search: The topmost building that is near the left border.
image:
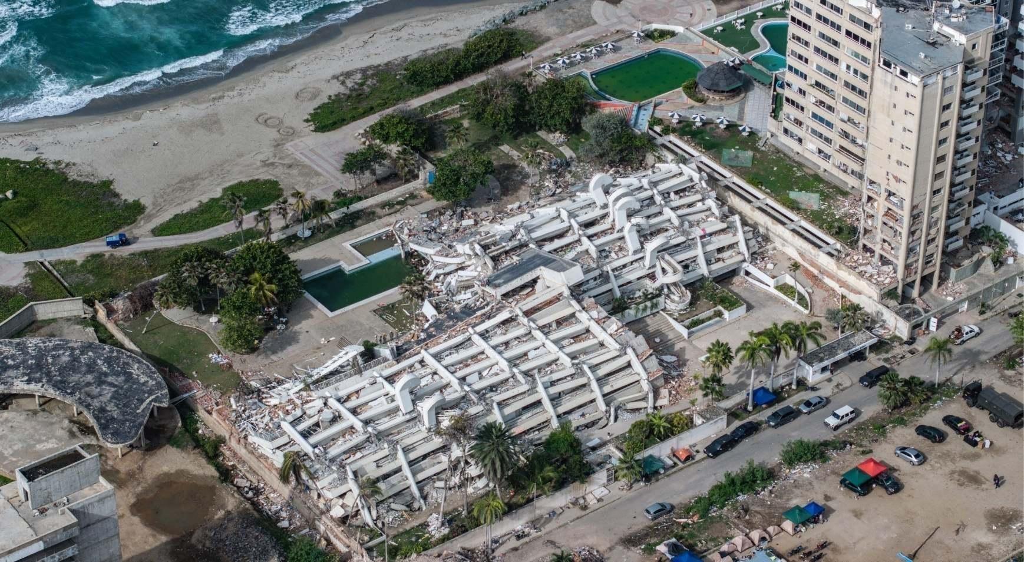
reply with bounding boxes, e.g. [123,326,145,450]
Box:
[0,337,179,478]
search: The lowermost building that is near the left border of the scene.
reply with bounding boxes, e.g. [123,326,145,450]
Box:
[0,444,122,562]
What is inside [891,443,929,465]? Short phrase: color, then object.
gray car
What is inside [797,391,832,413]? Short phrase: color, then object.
gray car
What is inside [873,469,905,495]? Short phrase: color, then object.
black car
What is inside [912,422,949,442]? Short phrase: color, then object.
black car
